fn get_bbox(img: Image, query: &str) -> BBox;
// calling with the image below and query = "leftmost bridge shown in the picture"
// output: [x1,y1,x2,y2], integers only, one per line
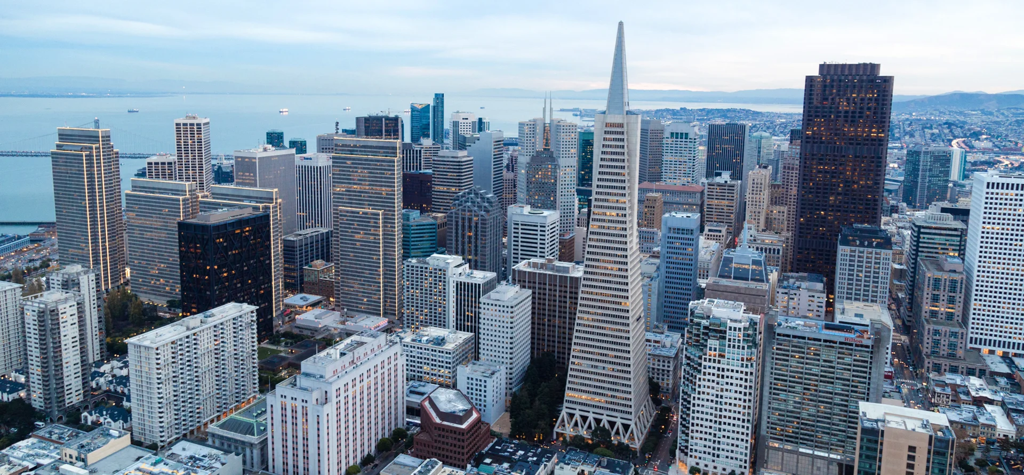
[0,117,247,162]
